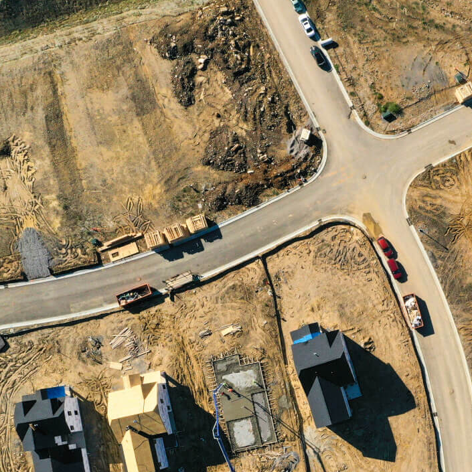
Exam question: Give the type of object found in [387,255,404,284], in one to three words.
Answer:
car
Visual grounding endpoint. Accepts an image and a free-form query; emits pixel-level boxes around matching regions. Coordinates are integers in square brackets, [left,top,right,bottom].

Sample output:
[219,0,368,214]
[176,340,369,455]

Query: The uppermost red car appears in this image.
[373,228,393,257]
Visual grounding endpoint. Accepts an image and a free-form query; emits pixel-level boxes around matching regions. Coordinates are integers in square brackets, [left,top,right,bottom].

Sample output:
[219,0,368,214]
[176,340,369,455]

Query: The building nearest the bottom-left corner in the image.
[12,383,87,472]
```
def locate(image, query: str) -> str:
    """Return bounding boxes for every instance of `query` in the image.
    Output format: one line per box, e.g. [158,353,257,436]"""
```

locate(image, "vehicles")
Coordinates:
[290,0,305,14]
[387,255,404,284]
[212,383,234,472]
[311,41,330,71]
[373,228,393,257]
[297,11,317,38]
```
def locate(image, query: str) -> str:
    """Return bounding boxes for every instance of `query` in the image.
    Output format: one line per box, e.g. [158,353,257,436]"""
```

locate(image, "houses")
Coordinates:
[12,383,87,472]
[291,320,364,428]
[107,370,174,472]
